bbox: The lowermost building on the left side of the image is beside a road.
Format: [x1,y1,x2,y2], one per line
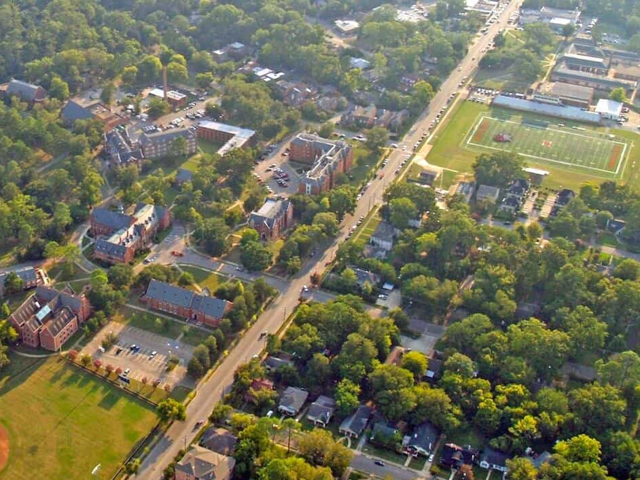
[174,443,237,480]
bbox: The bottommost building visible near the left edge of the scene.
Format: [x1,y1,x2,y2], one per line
[7,281,94,350]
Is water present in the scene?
No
